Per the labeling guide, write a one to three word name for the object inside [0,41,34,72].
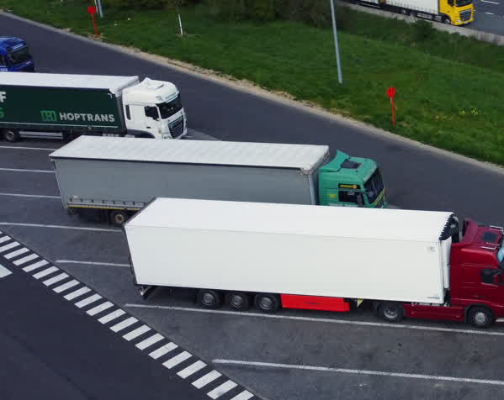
truck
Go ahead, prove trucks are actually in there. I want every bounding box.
[0,41,34,72]
[49,138,384,229]
[345,0,472,24]
[122,197,504,325]
[0,71,183,144]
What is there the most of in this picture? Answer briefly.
paved ground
